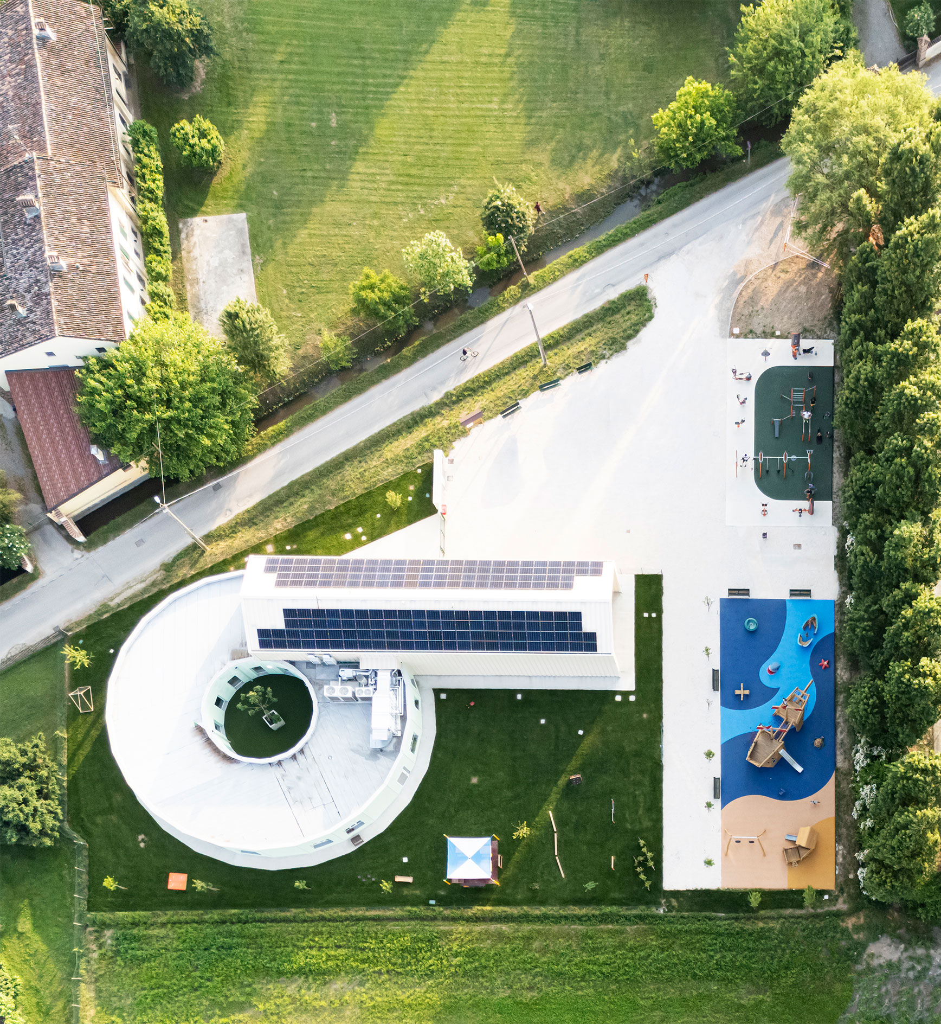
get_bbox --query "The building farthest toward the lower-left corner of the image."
[105,570,420,856]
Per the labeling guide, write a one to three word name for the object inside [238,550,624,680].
building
